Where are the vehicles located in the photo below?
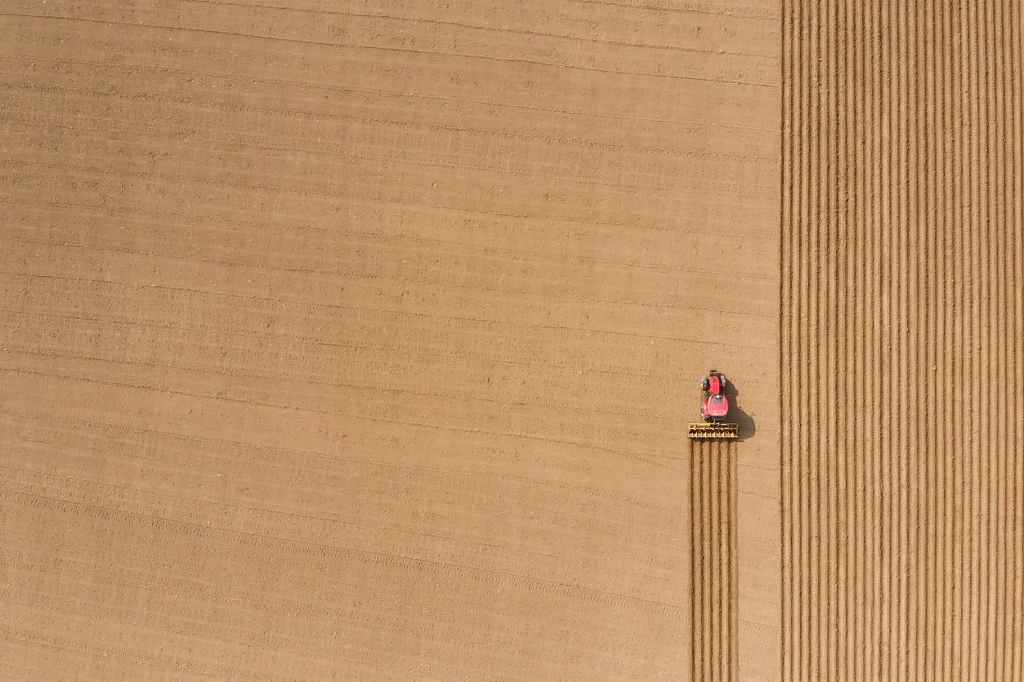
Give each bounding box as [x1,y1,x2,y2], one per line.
[699,370,731,423]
